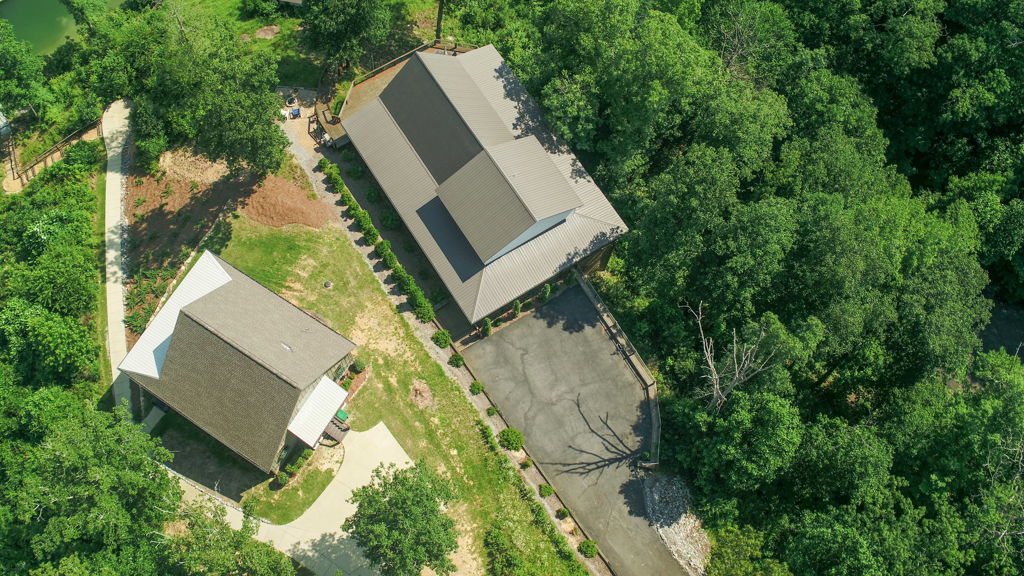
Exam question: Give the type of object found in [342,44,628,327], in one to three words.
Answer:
house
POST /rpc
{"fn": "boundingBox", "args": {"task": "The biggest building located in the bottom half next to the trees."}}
[117,249,361,476]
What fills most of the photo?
trees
